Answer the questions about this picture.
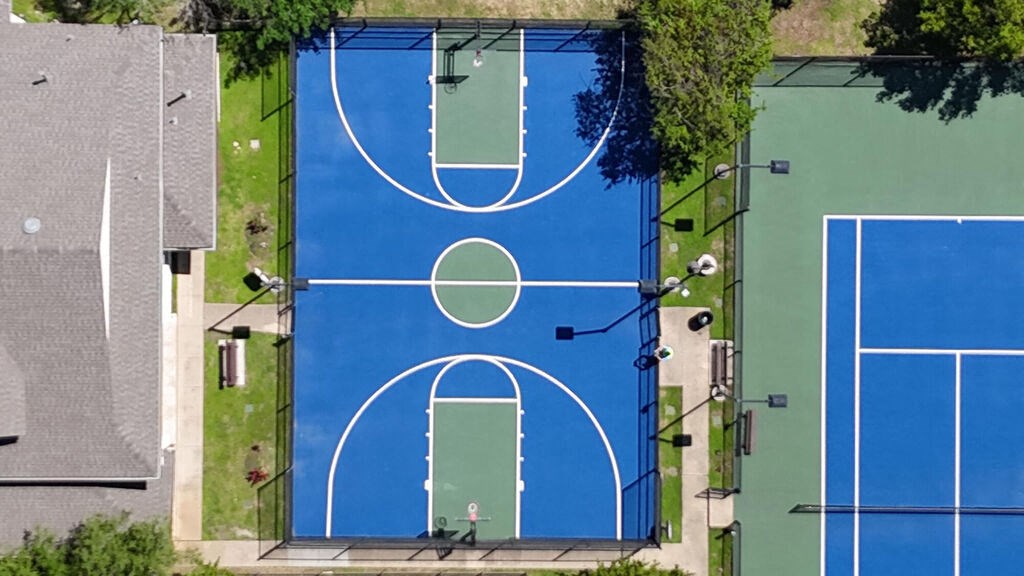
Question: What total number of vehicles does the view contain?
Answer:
0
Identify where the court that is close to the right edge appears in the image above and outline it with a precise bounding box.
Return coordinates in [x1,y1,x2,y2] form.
[731,68,1024,576]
